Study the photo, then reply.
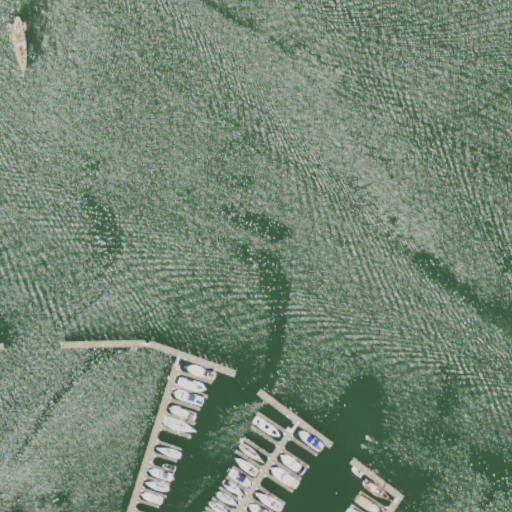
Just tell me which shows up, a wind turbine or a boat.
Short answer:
boat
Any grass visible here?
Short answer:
No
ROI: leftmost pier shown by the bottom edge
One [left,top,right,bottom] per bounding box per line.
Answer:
[126,356,212,512]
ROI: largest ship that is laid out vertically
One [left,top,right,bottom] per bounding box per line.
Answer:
[13,16,26,78]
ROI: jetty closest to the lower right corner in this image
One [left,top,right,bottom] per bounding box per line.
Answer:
[352,458,403,512]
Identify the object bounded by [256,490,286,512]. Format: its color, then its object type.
white boat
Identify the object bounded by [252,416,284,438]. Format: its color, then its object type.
white boat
